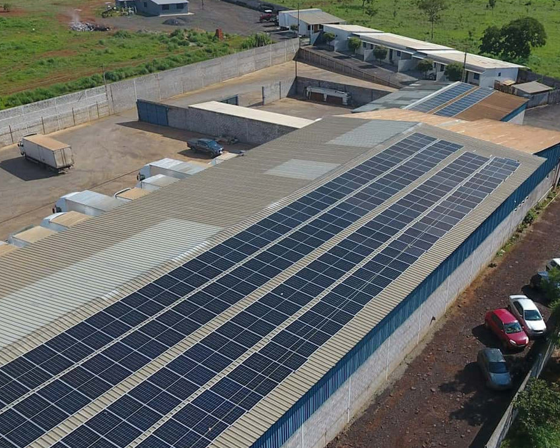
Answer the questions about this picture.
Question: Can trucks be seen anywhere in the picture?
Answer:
Yes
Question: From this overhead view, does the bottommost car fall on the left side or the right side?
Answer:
right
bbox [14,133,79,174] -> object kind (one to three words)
truck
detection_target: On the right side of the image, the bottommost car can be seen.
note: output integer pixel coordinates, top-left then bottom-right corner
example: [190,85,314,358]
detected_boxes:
[475,346,518,394]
